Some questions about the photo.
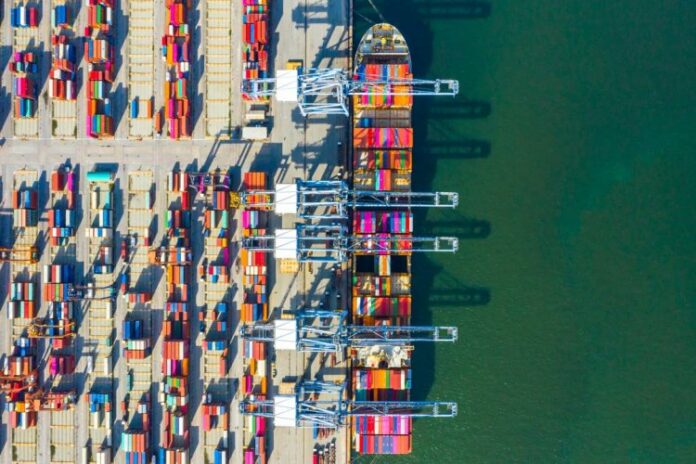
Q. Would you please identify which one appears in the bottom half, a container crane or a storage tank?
container crane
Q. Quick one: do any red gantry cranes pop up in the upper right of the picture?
No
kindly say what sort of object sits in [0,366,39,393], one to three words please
container crane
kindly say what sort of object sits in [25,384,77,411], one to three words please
container crane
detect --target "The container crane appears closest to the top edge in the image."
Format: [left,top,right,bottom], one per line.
[244,70,460,123]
